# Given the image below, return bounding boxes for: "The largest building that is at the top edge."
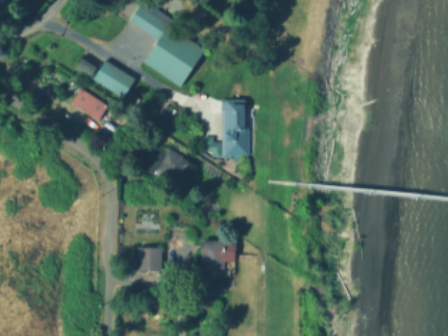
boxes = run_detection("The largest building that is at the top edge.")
[130,6,204,86]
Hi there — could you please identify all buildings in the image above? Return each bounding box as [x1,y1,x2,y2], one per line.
[202,242,236,272]
[130,6,204,86]
[150,144,196,184]
[76,57,98,77]
[137,248,163,272]
[206,99,251,162]
[94,60,134,97]
[72,90,108,122]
